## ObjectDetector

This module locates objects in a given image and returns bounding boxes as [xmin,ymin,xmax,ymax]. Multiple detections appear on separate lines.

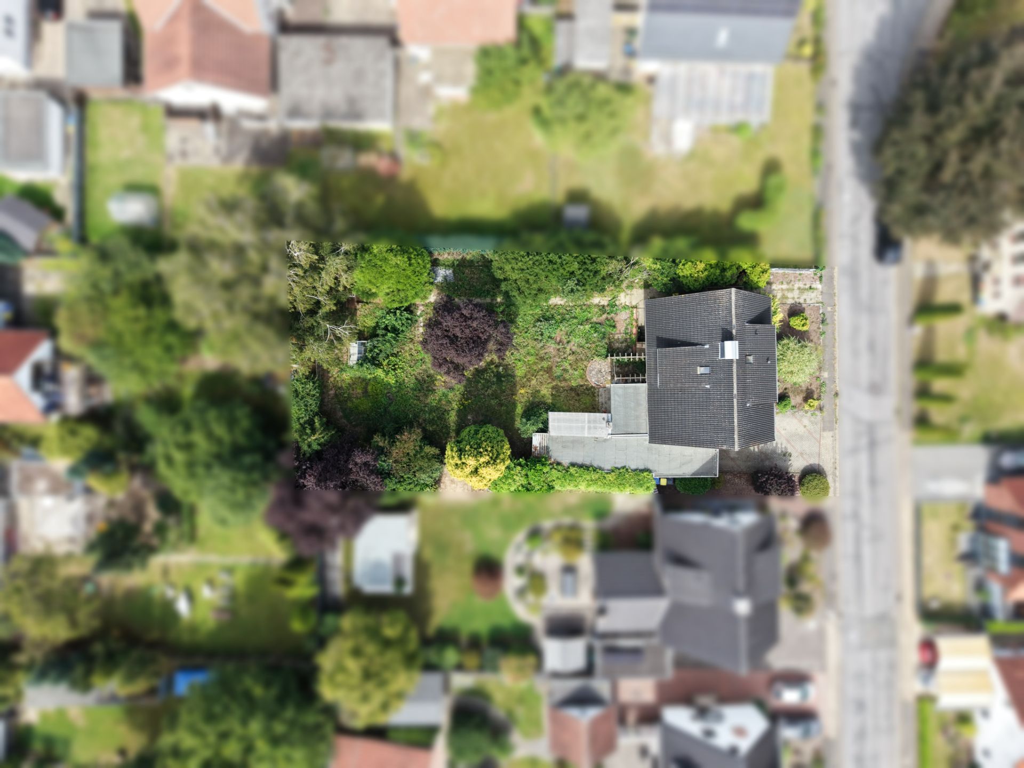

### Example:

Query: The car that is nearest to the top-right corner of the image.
[873,219,900,271]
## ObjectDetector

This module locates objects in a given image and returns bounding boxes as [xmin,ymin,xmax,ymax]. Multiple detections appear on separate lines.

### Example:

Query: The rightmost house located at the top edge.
[635,0,791,79]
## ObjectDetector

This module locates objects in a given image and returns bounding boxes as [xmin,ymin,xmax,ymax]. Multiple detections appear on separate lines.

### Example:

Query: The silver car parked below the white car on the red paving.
[770,712,822,739]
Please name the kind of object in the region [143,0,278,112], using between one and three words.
house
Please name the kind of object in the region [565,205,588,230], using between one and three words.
shed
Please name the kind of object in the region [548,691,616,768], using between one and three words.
building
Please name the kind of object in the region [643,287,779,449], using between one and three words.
house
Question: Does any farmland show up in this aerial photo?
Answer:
No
